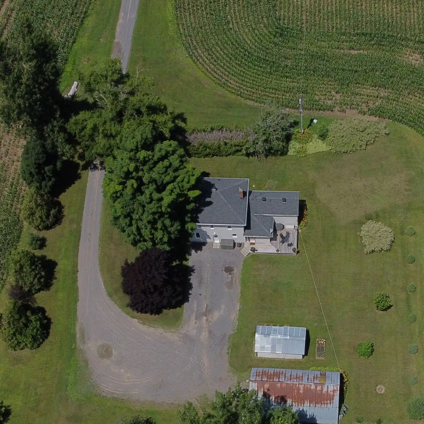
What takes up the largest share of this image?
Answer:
grass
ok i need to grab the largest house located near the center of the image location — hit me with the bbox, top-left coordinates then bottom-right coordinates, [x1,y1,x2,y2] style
[183,176,298,242]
